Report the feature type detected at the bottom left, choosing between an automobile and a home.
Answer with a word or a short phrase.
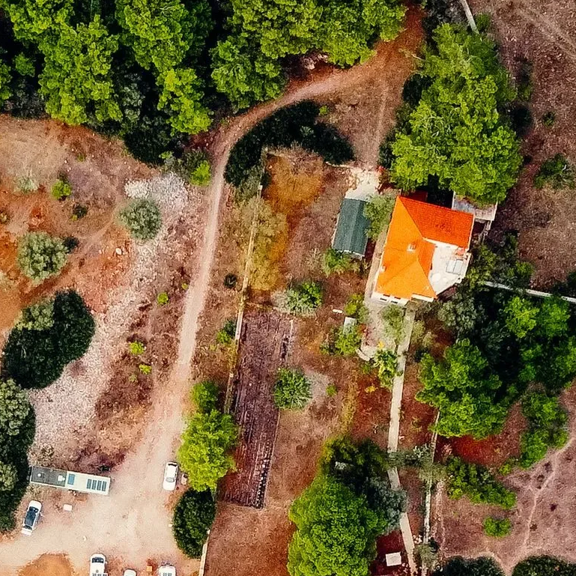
automobile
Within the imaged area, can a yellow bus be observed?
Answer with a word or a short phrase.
No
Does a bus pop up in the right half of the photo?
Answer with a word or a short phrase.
No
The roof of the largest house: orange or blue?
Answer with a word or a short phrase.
orange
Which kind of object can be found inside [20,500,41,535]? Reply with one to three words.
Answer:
car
